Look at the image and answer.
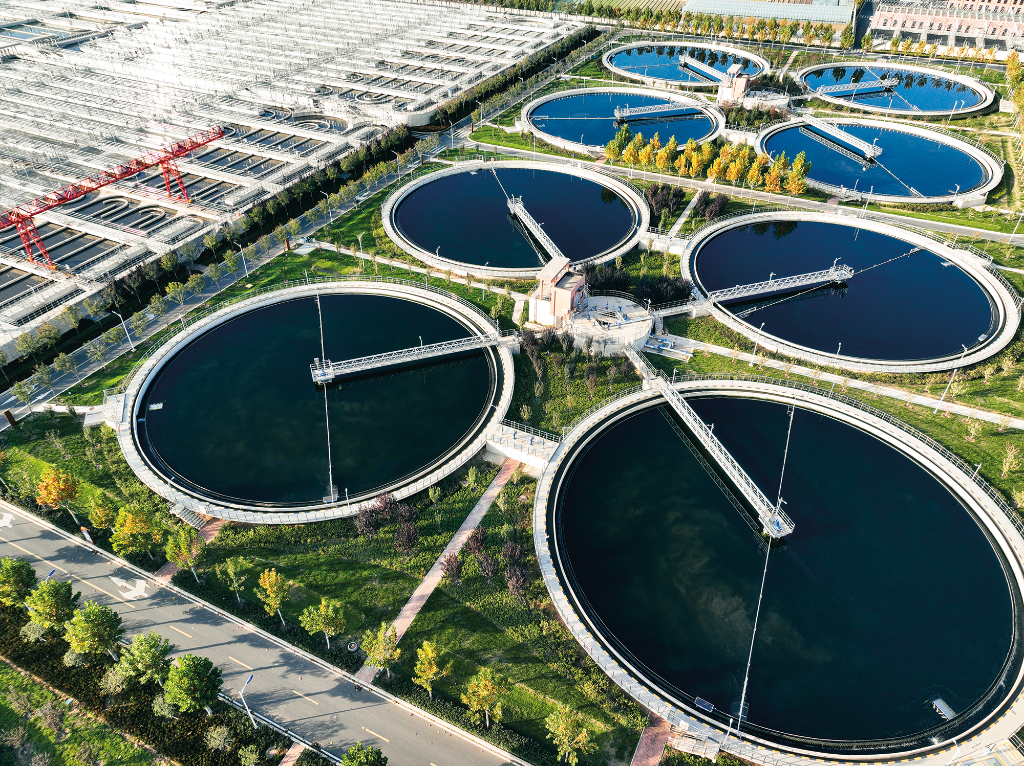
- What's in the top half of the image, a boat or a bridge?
bridge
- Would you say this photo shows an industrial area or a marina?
industrial area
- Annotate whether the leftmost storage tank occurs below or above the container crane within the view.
below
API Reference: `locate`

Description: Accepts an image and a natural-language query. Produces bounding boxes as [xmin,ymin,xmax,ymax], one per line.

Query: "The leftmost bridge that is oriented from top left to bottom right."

[505,195,573,272]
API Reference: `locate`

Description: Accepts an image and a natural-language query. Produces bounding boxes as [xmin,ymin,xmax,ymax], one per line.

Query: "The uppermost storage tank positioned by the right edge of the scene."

[794,57,994,121]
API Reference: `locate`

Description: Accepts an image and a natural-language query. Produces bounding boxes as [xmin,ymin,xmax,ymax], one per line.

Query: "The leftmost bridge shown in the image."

[306,330,510,387]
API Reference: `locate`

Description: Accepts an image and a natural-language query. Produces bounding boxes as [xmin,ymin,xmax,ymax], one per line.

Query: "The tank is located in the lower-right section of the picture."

[531,373,1024,766]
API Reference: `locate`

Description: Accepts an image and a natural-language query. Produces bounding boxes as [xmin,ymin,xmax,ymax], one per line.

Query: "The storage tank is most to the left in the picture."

[114,275,515,528]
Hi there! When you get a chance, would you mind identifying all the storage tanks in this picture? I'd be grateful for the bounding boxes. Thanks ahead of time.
[531,373,1024,766]
[518,81,725,159]
[752,112,1003,209]
[680,205,1021,379]
[114,275,515,528]
[380,154,651,283]
[794,57,994,121]
[600,36,771,90]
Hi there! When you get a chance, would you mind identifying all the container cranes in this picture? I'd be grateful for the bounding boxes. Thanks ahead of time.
[0,125,224,269]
